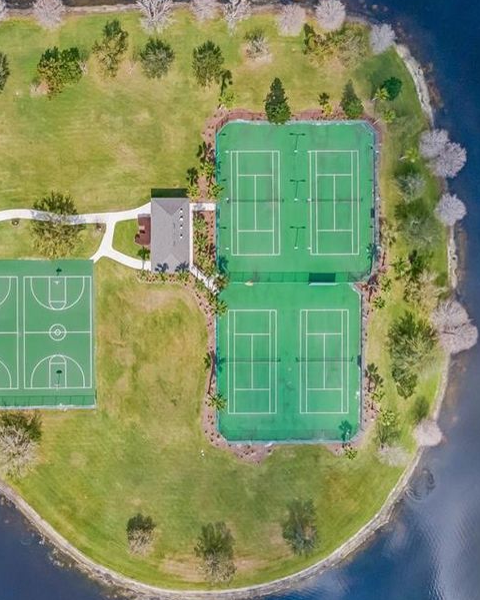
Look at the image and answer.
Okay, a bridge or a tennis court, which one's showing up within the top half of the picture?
tennis court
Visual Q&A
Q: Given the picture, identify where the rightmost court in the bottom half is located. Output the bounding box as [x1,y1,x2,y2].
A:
[289,284,361,442]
